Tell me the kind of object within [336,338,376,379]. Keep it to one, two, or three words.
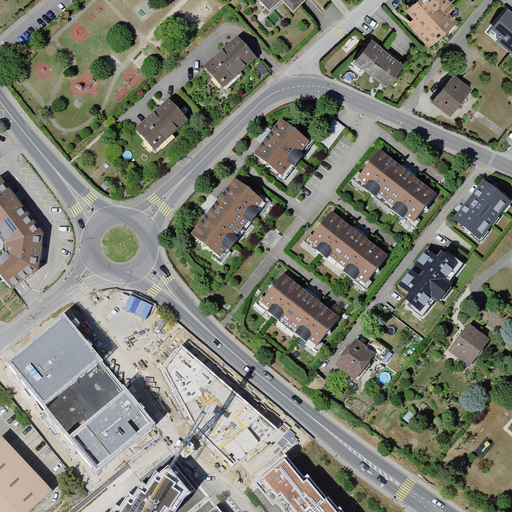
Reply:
house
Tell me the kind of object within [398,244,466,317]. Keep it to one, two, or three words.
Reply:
house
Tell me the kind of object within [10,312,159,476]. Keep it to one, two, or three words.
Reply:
building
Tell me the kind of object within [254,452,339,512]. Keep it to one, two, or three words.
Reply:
building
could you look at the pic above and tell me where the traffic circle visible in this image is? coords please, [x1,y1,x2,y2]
[80,205,160,285]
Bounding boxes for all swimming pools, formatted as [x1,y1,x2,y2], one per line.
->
[122,150,133,160]
[344,72,354,82]
[378,371,392,384]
